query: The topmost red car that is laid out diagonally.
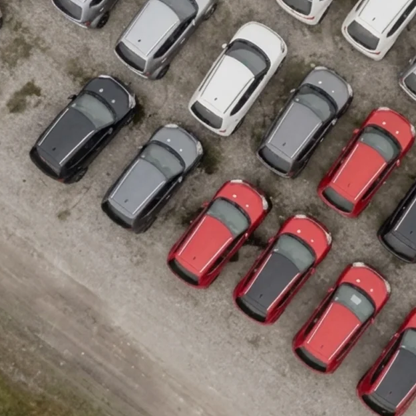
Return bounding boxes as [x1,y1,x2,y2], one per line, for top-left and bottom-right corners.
[312,104,415,218]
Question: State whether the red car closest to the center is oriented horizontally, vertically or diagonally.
diagonally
